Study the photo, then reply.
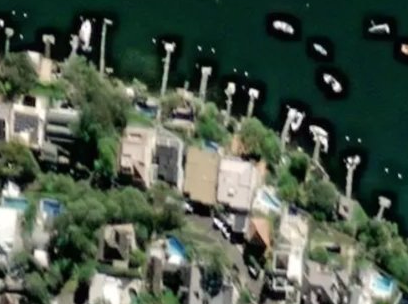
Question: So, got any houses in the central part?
Yes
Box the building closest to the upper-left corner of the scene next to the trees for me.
[26,52,52,83]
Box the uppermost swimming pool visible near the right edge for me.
[370,270,396,294]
